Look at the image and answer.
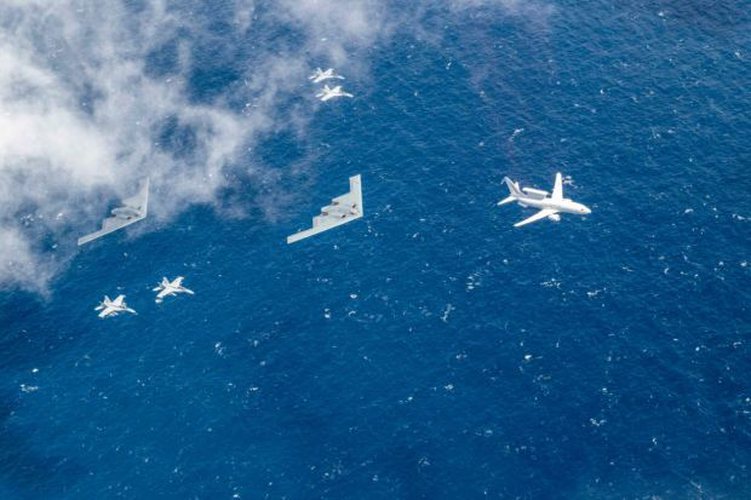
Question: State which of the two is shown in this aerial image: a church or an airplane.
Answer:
airplane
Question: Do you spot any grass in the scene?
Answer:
No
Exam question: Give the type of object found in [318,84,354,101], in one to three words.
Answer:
airplane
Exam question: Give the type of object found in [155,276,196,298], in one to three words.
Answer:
airplane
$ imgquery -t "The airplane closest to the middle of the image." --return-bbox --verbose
[287,176,362,243]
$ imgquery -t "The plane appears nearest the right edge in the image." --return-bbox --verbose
[498,174,590,227]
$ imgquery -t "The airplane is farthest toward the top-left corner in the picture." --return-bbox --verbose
[78,177,148,245]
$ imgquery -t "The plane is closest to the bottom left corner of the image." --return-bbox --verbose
[97,295,139,318]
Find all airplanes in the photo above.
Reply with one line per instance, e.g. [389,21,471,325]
[97,295,139,318]
[311,67,345,83]
[78,177,148,245]
[318,84,354,101]
[287,176,362,243]
[155,276,196,298]
[498,174,590,227]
